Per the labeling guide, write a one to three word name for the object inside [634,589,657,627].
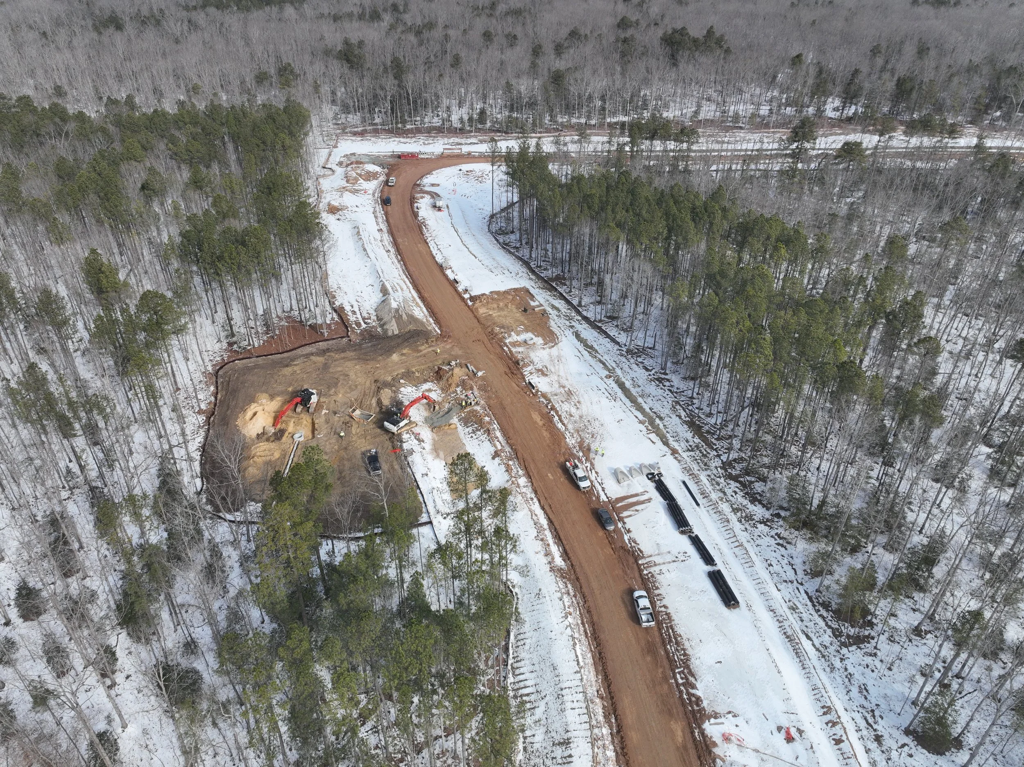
truck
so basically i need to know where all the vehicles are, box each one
[365,448,382,475]
[569,461,591,490]
[388,177,397,186]
[384,196,391,205]
[390,393,441,437]
[266,388,322,428]
[598,507,617,531]
[634,589,657,627]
